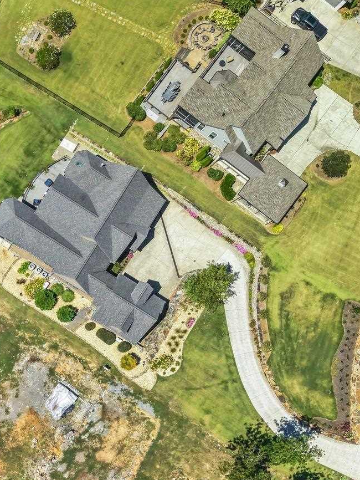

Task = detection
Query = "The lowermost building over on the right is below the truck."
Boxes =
[232,156,308,228]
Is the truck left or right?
right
